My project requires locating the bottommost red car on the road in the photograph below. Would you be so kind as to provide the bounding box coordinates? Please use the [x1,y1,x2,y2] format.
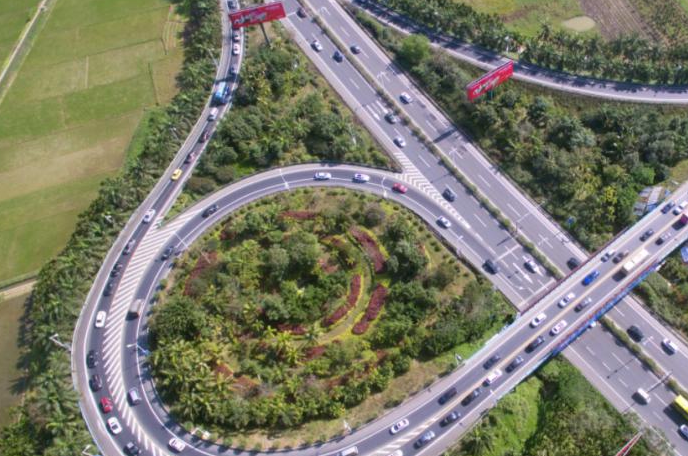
[99,396,113,414]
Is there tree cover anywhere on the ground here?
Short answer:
Yes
